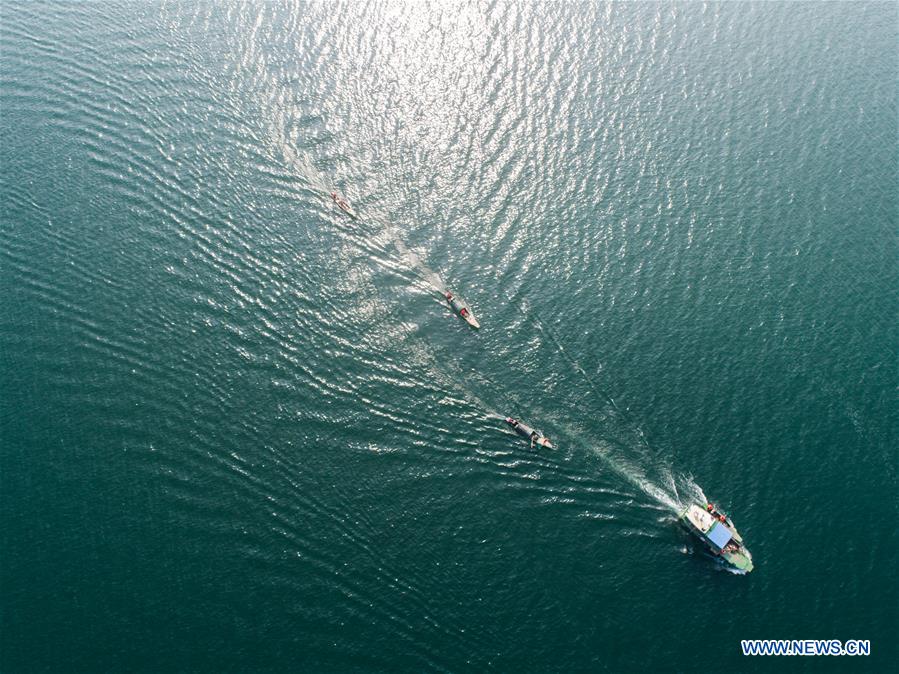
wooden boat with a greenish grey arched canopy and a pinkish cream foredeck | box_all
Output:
[445,290,479,327]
